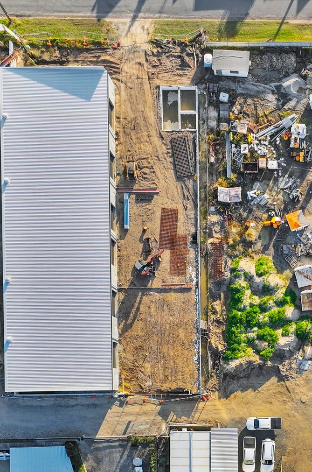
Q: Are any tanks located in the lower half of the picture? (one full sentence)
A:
No, no tank can be made out in the lower half of the picture.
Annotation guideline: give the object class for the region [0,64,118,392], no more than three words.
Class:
shed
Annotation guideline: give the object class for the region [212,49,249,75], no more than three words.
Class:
shed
